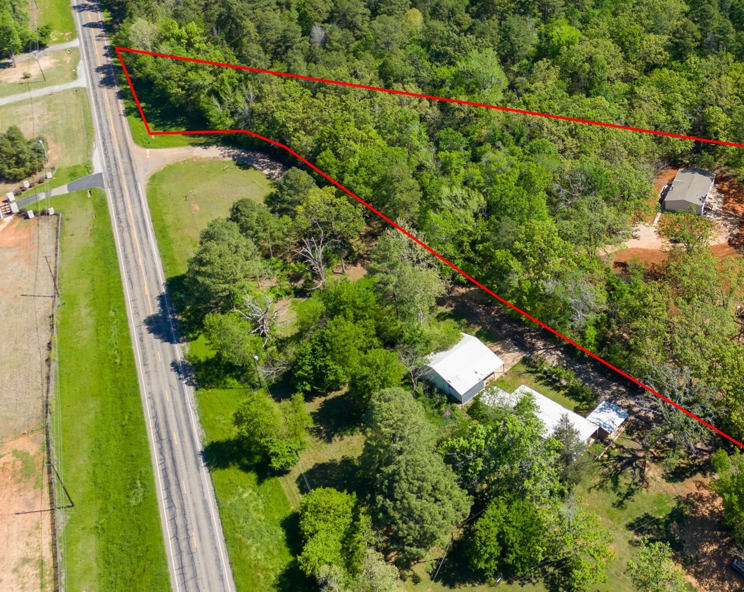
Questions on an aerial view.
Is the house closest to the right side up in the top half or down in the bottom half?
top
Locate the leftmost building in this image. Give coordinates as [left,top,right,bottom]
[420,330,504,404]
